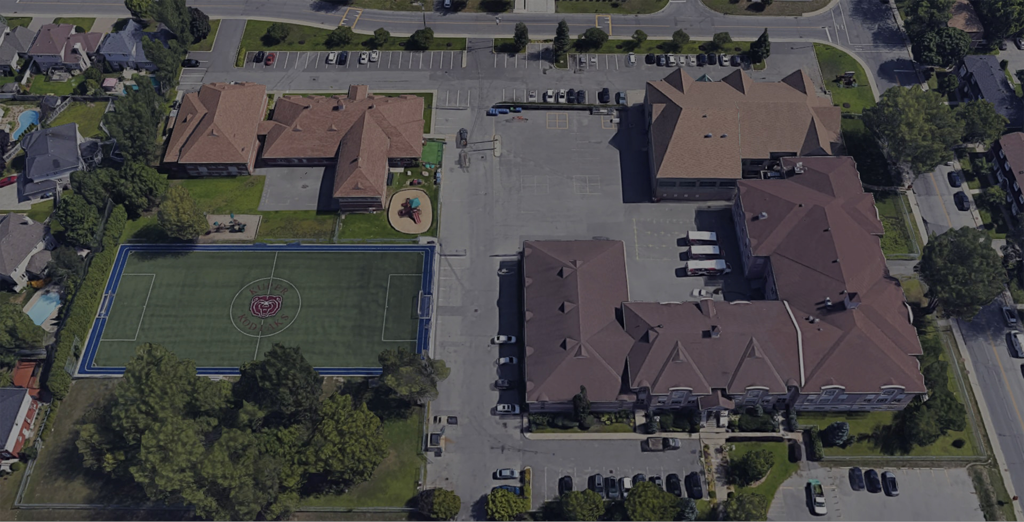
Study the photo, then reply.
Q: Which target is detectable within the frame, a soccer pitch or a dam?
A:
soccer pitch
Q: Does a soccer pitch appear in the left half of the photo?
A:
Yes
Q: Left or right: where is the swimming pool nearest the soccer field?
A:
left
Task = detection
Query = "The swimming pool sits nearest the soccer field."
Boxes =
[28,291,61,324]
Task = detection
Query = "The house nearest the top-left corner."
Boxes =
[0,23,36,76]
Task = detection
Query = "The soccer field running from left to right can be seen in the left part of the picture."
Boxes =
[92,251,424,367]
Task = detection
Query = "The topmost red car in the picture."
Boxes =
[264,51,277,66]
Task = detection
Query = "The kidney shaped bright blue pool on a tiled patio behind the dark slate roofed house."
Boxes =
[12,109,40,140]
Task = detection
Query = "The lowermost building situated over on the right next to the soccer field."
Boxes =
[523,158,924,427]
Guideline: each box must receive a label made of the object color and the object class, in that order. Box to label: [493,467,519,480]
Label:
gray vehicle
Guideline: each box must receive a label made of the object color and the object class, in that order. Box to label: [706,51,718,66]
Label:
black vehicle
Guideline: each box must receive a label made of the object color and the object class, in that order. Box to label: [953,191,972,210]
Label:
black car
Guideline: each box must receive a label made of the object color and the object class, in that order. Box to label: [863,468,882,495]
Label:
black car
